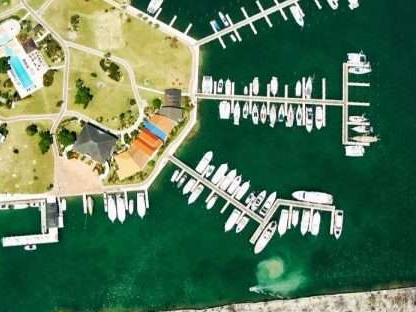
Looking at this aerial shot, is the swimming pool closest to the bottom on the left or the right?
left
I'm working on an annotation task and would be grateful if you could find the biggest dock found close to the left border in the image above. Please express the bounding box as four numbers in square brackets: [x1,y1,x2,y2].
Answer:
[3,202,58,247]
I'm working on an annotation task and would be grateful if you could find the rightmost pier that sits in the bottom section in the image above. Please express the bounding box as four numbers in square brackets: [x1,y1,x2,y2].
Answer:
[169,154,335,242]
